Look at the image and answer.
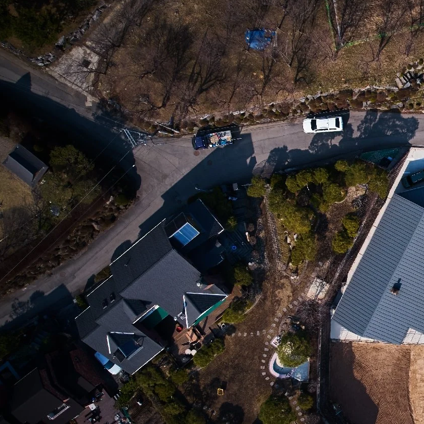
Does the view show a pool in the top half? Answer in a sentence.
No, in the top half there is no pool.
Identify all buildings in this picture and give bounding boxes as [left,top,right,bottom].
[0,365,95,424]
[75,219,241,375]
[3,145,53,186]
[331,193,424,344]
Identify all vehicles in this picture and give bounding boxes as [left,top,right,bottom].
[190,129,233,150]
[399,169,424,188]
[95,350,121,381]
[302,114,342,134]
